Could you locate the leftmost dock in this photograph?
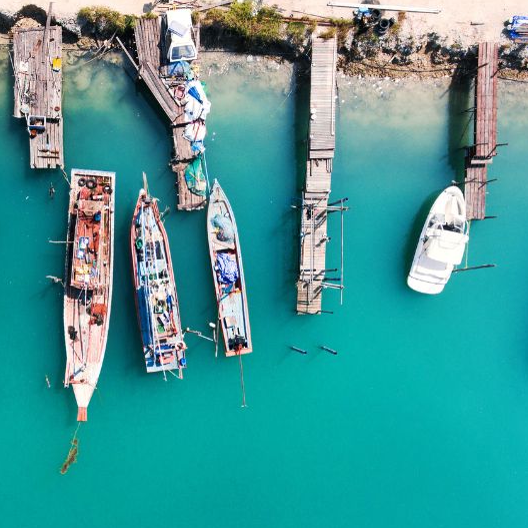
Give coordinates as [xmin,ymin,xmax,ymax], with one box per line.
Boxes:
[7,29,66,169]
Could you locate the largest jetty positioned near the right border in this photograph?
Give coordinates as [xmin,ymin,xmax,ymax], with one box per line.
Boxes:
[454,43,512,220]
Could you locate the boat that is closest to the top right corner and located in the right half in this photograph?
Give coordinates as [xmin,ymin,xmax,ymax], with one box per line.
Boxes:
[403,186,469,295]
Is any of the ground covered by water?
Yes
